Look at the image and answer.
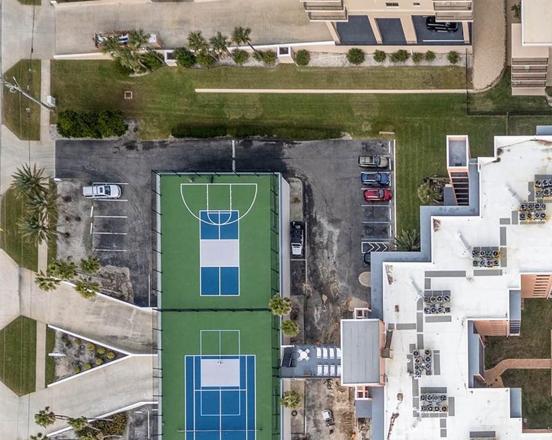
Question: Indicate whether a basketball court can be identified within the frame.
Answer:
Yes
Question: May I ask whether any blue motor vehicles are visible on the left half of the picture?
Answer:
No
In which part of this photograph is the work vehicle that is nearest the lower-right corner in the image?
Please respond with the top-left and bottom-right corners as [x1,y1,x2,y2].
[319,410,337,433]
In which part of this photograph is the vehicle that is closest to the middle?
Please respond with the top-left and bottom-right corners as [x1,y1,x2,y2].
[289,222,305,254]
